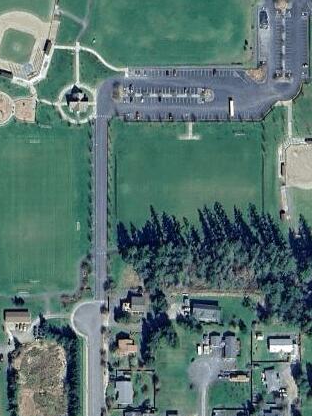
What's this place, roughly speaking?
sports ground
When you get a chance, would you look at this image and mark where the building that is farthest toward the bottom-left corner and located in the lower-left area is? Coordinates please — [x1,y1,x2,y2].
[4,311,29,323]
